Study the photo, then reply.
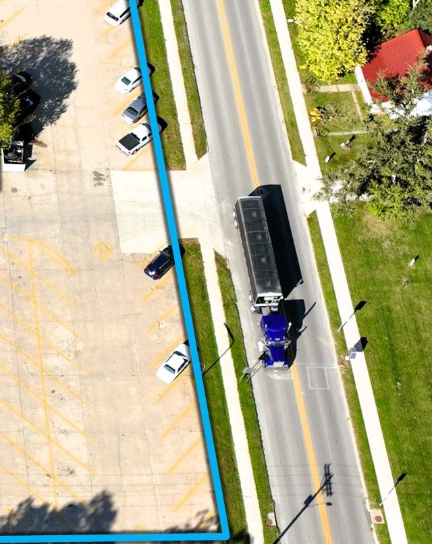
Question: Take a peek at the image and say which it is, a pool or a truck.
truck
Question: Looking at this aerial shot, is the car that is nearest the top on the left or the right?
left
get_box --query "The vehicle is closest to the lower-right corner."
[248,298,294,371]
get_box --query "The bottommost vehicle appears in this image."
[153,341,196,384]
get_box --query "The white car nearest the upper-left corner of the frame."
[103,0,139,27]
